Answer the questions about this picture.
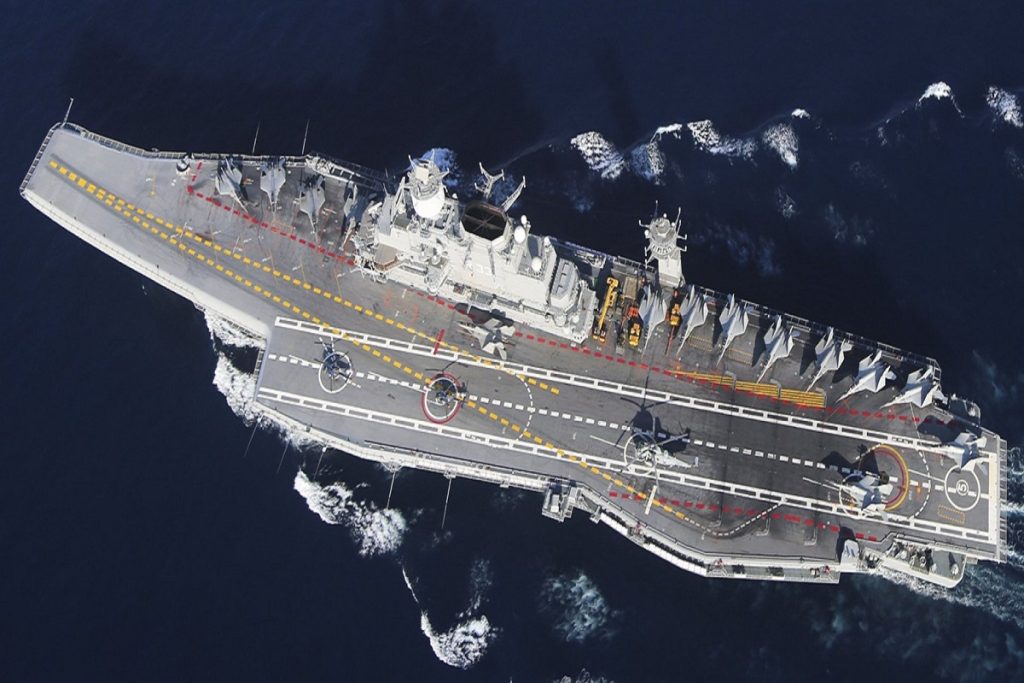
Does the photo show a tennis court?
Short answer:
No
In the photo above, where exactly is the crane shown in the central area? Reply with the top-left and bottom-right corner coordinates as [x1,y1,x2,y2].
[595,276,619,331]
